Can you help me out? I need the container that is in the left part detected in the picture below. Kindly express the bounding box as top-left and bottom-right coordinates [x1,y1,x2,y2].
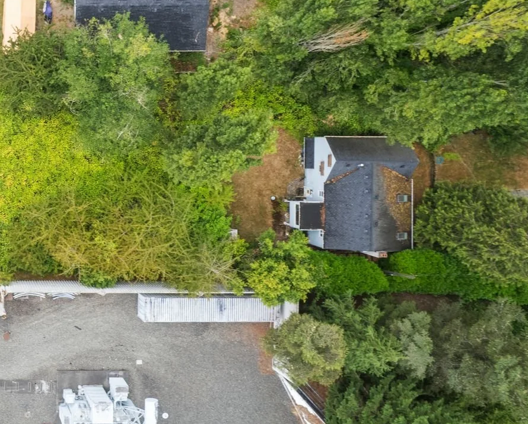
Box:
[139,295,274,322]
